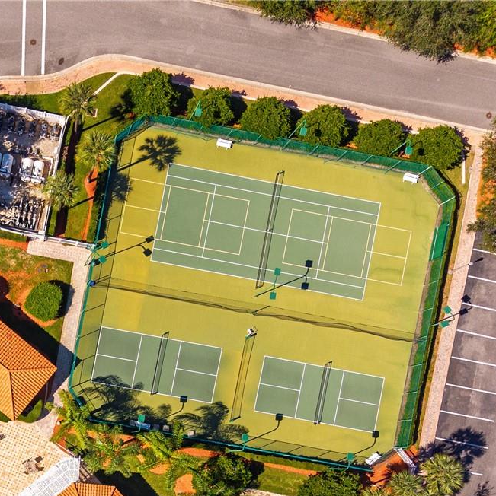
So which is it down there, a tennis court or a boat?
tennis court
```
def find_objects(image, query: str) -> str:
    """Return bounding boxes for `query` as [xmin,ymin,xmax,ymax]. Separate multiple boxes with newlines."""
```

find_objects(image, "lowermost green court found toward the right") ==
[255,356,385,433]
